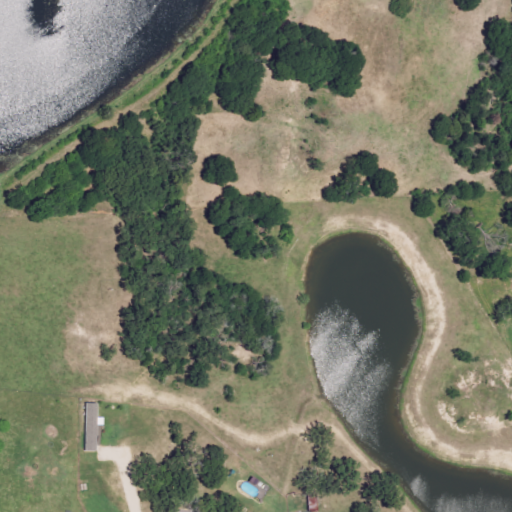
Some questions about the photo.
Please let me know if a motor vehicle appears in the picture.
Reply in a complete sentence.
No, the frame has no motor vehicle in it.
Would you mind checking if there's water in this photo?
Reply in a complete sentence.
Yes, water can be seen from above here.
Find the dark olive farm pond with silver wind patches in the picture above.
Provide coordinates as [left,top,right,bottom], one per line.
[304,231,512,512]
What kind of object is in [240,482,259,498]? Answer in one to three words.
swimming pool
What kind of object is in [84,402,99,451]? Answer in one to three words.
house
